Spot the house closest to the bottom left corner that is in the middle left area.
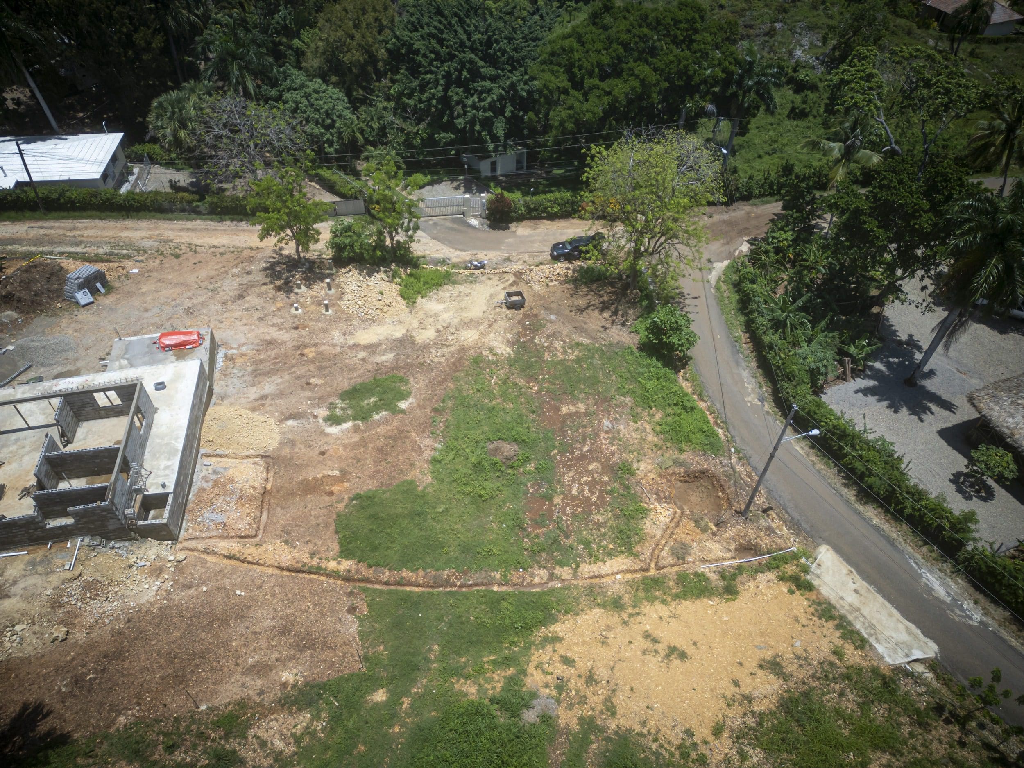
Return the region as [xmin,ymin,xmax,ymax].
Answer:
[0,321,218,556]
